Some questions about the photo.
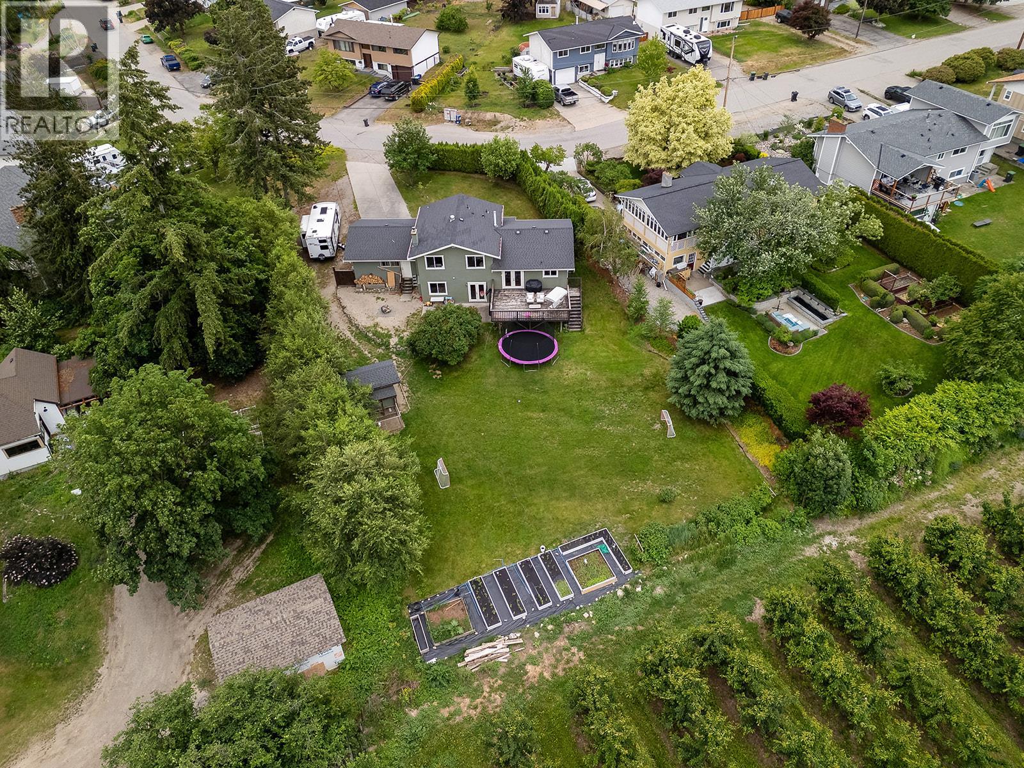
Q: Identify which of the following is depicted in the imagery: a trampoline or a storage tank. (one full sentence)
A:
It is a trampoline that can be seen here.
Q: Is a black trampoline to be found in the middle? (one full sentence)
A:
Yes, a black trampoline shows up in the middle.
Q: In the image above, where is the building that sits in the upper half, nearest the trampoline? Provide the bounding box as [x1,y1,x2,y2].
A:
[343,190,575,302]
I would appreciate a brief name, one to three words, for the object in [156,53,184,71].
vehicle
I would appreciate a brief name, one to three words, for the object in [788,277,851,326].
pond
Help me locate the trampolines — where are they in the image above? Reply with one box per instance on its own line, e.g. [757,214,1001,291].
[499,328,558,371]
